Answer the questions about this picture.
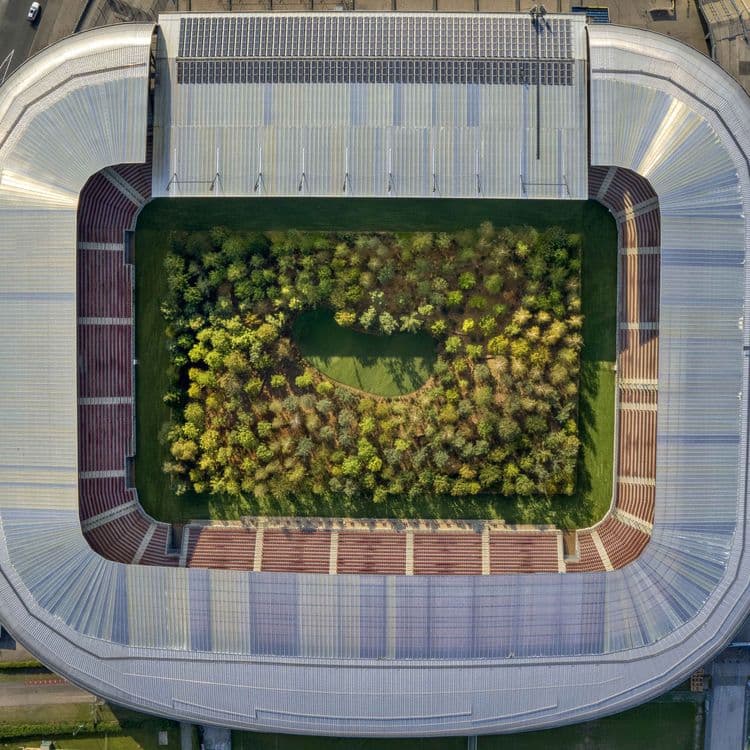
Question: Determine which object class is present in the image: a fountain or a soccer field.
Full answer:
There is a soccer field in the scene.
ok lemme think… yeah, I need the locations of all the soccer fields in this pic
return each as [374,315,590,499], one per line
[135,195,616,520]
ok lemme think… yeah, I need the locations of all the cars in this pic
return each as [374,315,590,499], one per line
[26,1,39,21]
